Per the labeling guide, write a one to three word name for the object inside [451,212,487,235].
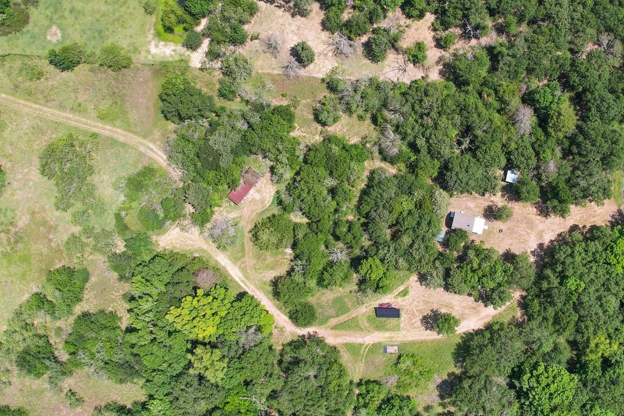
building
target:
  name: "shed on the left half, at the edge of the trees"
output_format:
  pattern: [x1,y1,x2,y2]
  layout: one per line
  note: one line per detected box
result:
[227,169,261,204]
